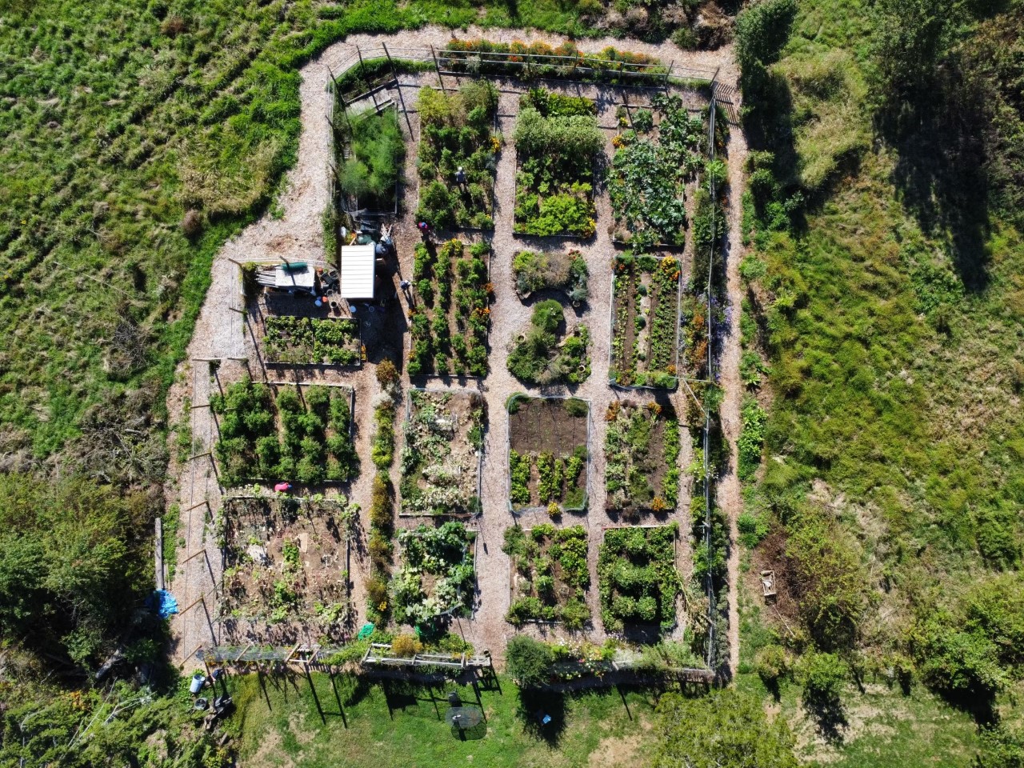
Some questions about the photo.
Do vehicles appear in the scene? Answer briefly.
No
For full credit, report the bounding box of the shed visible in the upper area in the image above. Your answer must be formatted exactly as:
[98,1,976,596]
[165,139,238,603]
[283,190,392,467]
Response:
[341,245,385,302]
